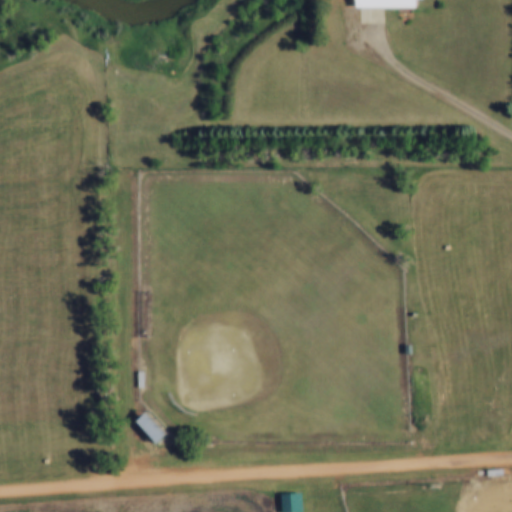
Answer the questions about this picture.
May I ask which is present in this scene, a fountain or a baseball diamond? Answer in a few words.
baseball diamond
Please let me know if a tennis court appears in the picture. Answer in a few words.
No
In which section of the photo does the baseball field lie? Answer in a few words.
center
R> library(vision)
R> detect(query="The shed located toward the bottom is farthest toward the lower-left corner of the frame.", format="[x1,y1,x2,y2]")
[136,412,166,444]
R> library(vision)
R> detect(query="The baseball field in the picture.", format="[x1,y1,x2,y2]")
[148,182,404,438]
